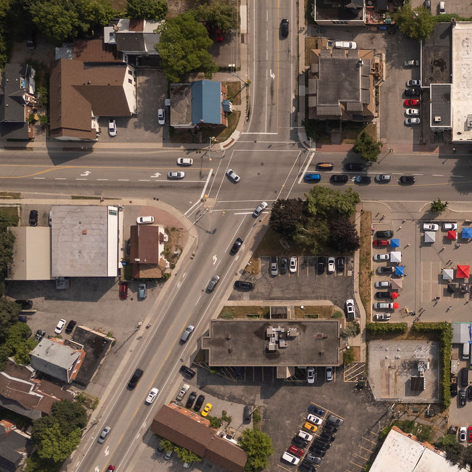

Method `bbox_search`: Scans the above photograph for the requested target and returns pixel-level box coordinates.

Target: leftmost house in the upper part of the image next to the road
[0,62,41,142]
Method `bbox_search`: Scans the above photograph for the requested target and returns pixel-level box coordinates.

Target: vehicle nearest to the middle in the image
[230,237,243,253]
